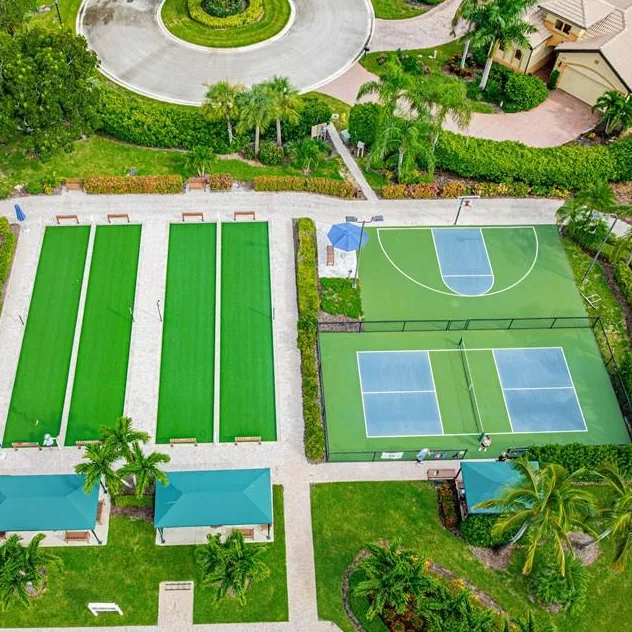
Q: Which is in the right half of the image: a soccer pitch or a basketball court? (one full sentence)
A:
It is a basketball court that can be seen in the right half of the image.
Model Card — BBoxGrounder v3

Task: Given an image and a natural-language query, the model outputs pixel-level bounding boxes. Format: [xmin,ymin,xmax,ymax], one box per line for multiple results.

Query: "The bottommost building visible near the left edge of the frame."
[0,473,107,549]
